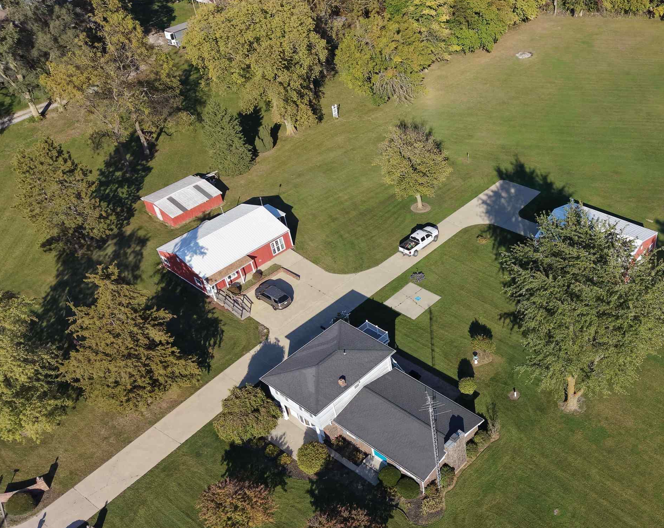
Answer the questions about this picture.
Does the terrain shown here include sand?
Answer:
No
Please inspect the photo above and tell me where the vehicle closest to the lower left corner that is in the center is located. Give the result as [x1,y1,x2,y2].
[253,284,291,310]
